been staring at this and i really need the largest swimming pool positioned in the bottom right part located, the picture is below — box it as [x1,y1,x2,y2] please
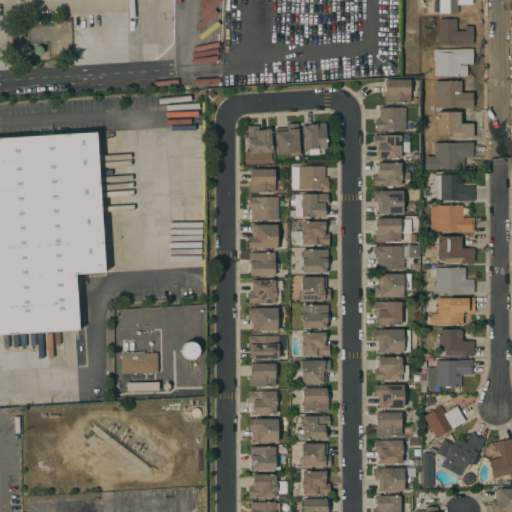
[436,470,458,486]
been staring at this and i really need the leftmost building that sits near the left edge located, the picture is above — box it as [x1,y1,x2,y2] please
[0,132,108,335]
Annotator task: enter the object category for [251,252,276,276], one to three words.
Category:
house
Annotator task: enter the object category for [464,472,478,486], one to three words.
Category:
gazebo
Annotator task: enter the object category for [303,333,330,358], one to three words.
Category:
house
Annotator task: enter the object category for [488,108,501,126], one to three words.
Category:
vehicle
